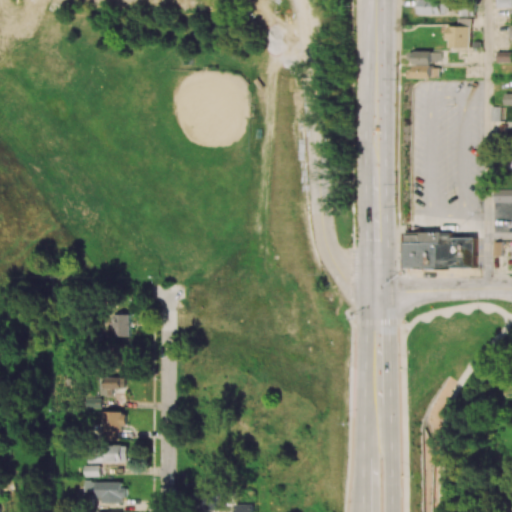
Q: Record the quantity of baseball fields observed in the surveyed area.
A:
1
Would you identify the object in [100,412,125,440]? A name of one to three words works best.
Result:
house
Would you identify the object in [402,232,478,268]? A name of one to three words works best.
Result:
building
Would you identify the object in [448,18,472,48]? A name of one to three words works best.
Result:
building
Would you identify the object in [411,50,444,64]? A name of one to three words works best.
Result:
house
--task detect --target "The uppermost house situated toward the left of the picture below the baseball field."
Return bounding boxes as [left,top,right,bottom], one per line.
[110,314,129,338]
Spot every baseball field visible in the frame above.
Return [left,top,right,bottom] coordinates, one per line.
[116,68,257,205]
